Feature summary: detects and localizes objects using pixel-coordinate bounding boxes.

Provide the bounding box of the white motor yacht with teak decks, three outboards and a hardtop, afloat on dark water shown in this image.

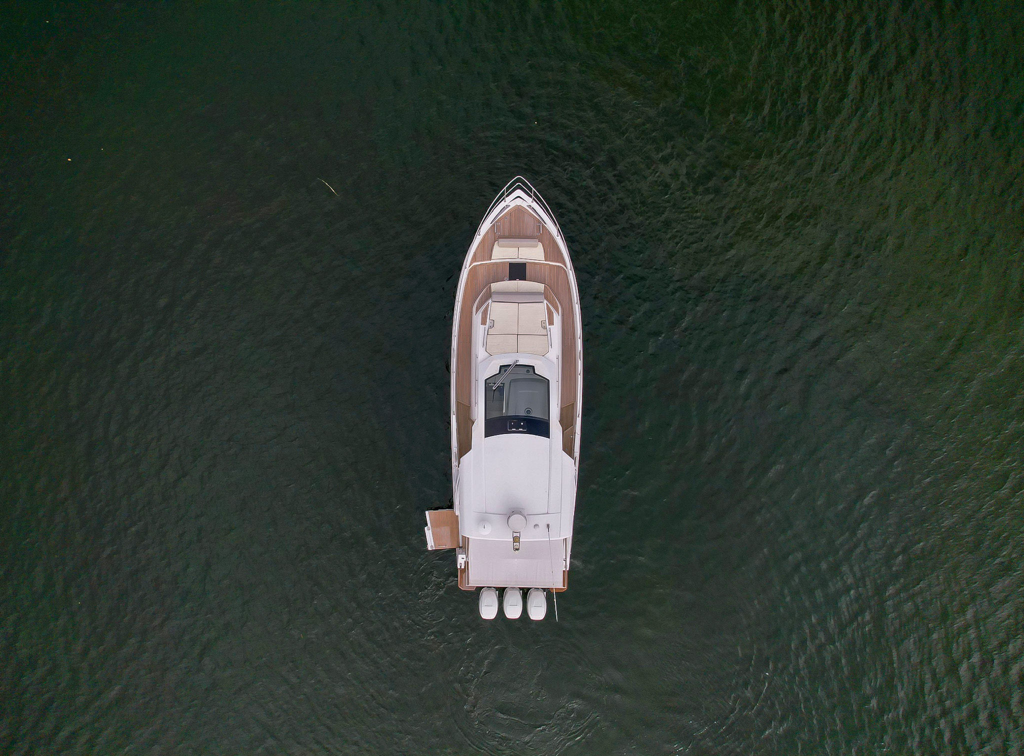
[425,175,583,621]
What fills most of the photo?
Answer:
water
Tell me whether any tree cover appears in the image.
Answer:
No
